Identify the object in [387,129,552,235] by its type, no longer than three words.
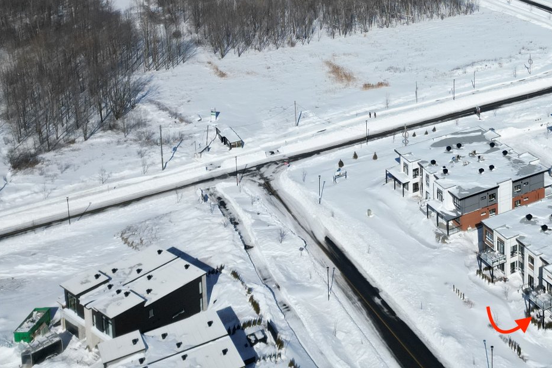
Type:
building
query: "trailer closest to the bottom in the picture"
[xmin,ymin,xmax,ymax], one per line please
[22,331,68,367]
